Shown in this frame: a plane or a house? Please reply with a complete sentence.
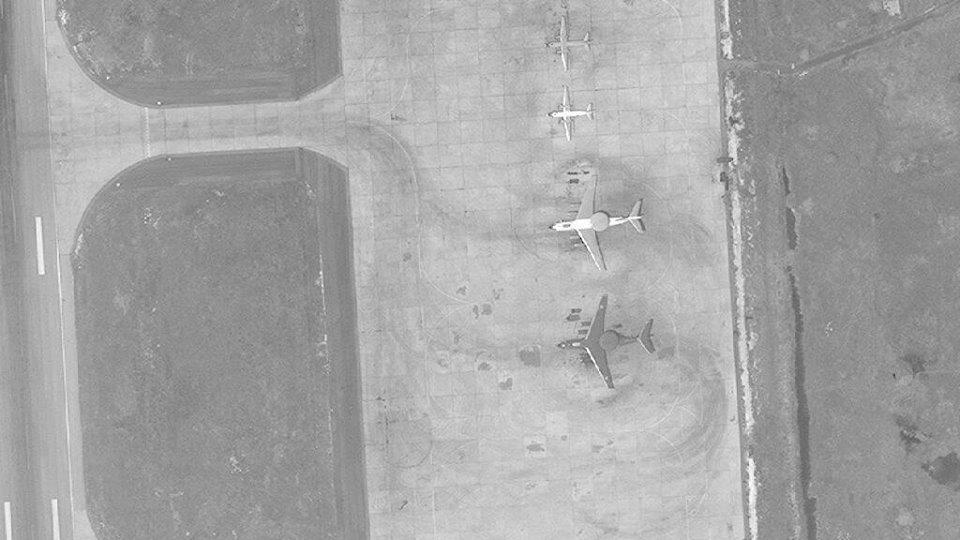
Visible in the photo is a plane.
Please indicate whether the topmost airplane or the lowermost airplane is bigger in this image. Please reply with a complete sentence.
It is the lowermost airplane that is larger, not the topmost airplane.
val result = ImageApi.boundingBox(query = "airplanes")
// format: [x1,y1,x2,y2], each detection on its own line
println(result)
[550,175,644,270]
[558,293,652,389]
[546,16,591,71]
[547,86,592,142]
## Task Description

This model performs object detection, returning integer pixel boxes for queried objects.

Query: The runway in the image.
[0,0,74,540]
